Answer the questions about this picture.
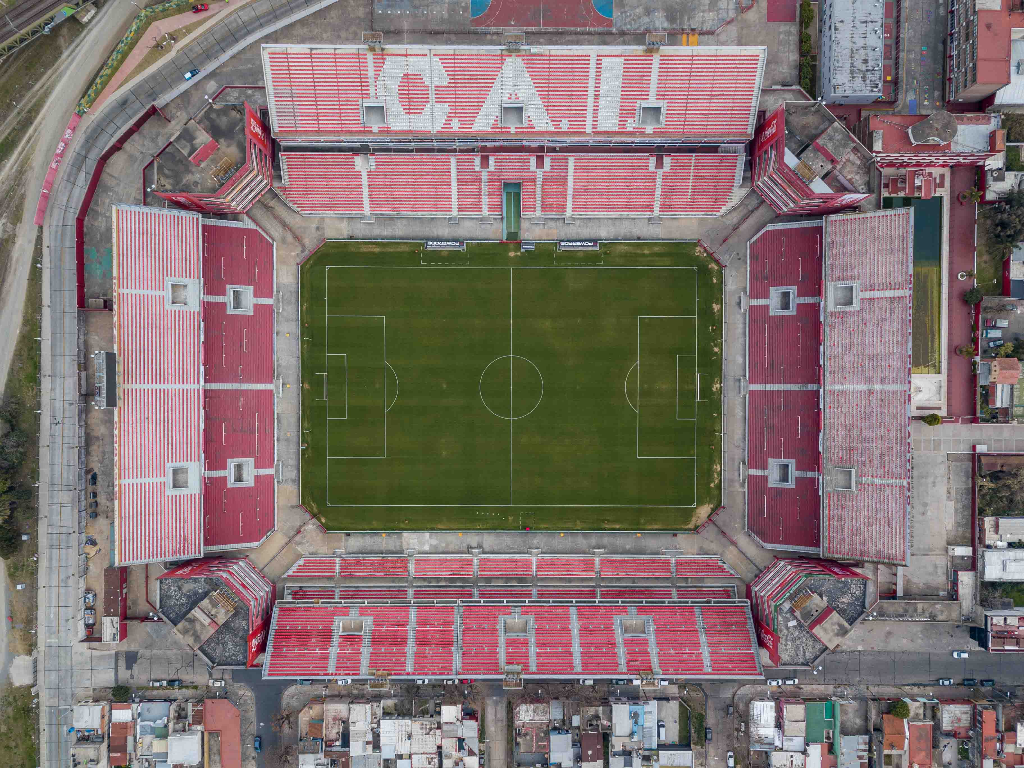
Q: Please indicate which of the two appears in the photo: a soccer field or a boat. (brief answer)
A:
soccer field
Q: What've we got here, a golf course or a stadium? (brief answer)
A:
stadium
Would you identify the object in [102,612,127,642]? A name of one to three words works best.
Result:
shed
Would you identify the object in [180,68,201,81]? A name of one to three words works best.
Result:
vehicle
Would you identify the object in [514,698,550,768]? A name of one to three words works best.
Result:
house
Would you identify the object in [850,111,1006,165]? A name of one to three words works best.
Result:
building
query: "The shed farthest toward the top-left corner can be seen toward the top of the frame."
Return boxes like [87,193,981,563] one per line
[74,5,102,29]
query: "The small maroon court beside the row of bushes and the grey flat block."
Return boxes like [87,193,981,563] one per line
[767,0,797,22]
